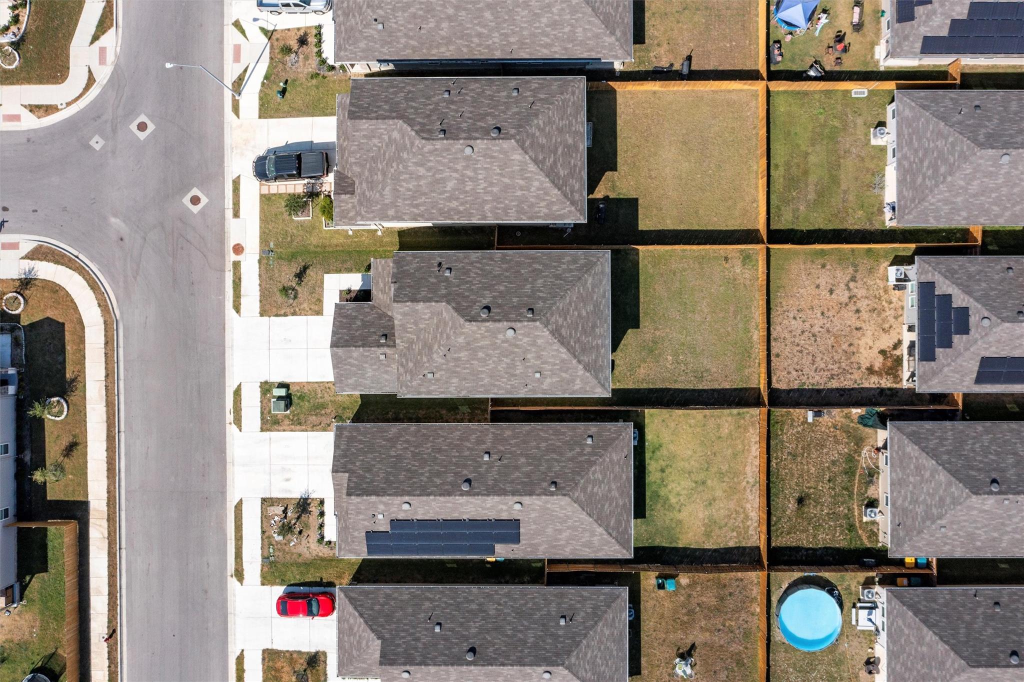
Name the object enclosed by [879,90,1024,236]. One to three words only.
house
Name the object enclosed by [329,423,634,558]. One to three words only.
house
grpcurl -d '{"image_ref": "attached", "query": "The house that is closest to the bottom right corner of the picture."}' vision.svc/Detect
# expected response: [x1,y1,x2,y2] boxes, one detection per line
[874,583,1024,682]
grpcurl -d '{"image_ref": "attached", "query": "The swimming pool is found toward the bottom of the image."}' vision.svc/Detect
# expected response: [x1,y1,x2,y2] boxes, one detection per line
[771,582,843,652]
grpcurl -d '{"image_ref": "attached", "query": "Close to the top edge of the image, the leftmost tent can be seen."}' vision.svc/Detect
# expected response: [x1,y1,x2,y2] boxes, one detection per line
[768,0,818,42]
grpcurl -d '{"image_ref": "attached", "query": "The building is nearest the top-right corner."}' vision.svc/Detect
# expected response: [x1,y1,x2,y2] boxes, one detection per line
[870,0,1024,80]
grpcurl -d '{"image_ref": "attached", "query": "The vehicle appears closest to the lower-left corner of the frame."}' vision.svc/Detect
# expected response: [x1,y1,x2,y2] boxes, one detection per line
[276,592,336,622]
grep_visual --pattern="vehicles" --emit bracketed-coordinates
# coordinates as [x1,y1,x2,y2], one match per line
[256,0,331,13]
[276,592,336,622]
[249,149,332,184]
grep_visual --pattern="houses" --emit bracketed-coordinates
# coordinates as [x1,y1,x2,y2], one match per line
[336,581,627,682]
[874,583,1024,682]
[331,0,633,82]
[329,423,634,558]
[877,421,1024,557]
[902,256,1024,392]
[330,250,612,397]
[870,0,1024,80]
[331,76,586,243]
[0,367,35,613]
[879,90,1024,236]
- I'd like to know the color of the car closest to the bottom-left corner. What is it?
red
